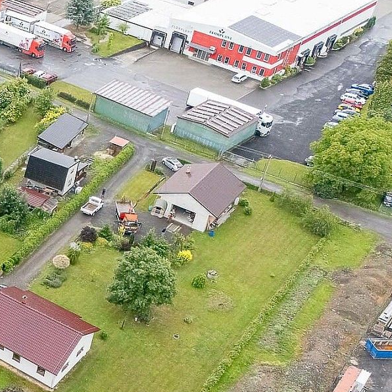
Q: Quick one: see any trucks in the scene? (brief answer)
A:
Yes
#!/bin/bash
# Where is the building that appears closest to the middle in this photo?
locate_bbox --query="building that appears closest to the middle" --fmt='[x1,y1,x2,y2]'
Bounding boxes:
[154,163,247,229]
